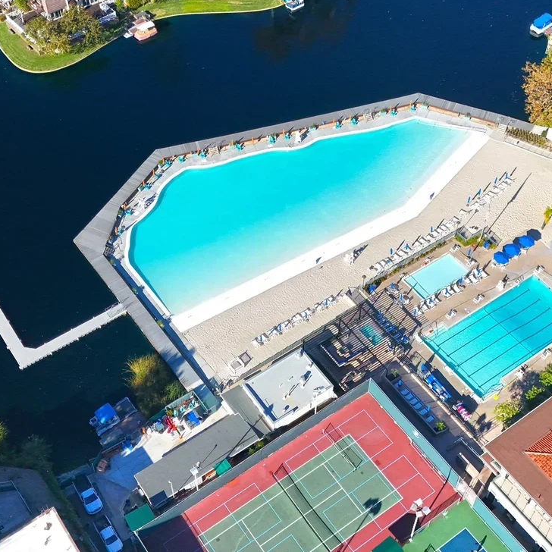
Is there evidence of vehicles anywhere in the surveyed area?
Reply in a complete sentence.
Yes, the image includes a vehicle.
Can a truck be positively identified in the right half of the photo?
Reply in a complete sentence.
No, the scene shows no truck in the right half of the photo.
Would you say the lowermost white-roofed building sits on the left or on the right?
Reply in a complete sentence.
The lowermost white-roofed building sits on the left side.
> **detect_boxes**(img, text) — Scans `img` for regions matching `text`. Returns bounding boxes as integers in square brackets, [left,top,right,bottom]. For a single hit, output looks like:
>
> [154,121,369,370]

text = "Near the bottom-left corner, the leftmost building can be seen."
[0,505,83,552]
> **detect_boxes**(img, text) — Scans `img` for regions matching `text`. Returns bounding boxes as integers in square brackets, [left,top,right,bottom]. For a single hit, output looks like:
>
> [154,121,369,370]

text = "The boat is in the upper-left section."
[123,18,161,40]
